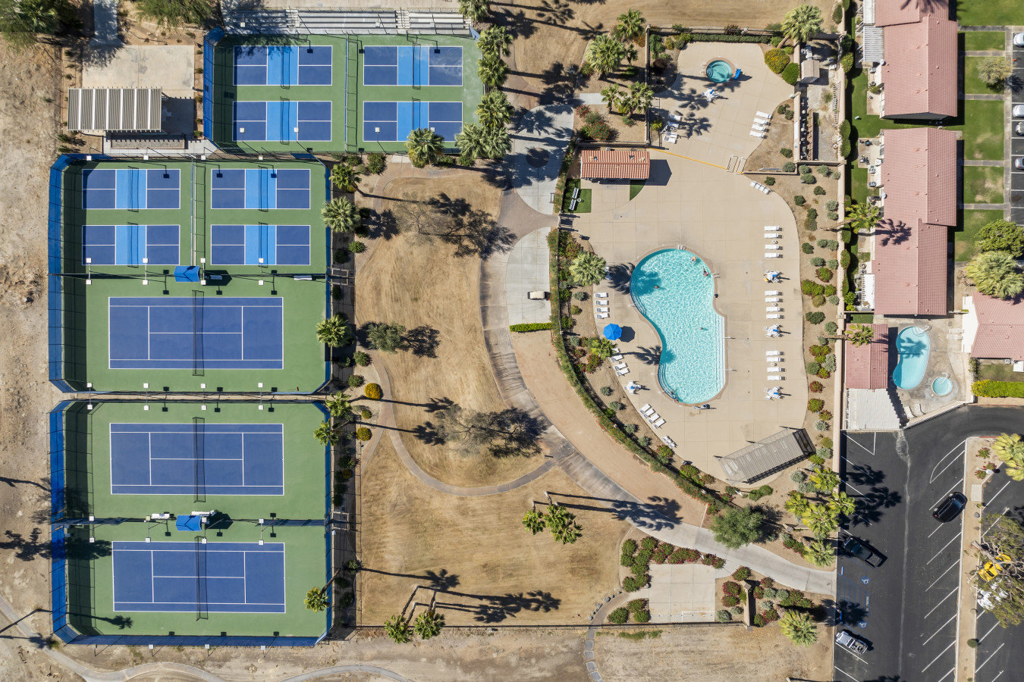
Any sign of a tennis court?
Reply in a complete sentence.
Yes, the photo shows a tennis court.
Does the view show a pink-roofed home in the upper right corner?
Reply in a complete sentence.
Yes, in the upper right corner there is a pink-roofed home.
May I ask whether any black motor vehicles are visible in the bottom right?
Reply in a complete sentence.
Yes, a black motor vehicle is visible in the bottom right.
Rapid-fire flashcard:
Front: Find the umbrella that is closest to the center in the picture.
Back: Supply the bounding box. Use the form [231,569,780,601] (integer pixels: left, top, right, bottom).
[604,324,621,340]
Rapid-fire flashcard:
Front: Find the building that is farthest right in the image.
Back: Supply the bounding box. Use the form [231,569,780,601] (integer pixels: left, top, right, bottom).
[962,292,1024,359]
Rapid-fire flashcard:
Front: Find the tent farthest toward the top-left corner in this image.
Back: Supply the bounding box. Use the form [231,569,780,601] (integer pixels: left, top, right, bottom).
[174,266,206,283]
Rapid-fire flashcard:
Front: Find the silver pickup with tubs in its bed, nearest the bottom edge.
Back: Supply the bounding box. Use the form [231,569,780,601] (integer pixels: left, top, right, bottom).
[835,629,874,661]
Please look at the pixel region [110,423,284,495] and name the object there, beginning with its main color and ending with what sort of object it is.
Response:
blue tennis court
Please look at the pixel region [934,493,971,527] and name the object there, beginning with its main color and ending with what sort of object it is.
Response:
black car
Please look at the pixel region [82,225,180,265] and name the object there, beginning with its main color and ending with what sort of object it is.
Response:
blue sports court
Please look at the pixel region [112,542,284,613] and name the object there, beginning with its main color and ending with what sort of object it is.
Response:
blue tennis court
